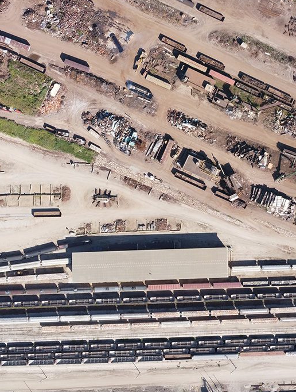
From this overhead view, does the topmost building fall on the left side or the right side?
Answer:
right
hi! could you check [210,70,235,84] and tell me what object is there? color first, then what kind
pink rail car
